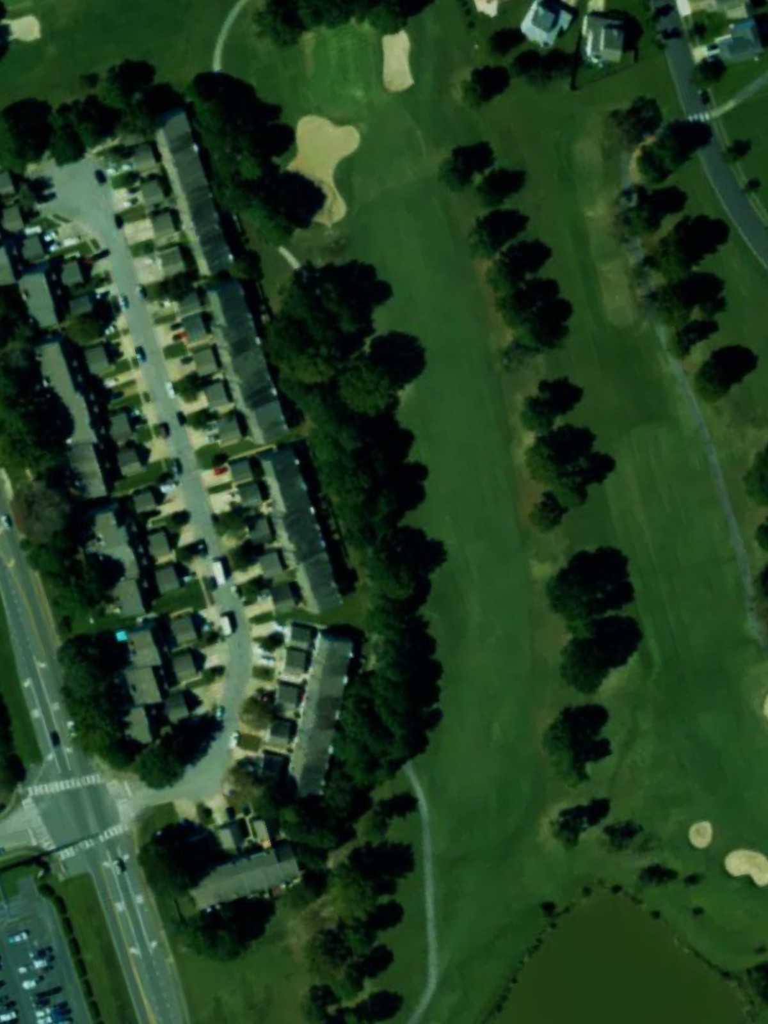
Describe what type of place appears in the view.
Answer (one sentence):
What you see here is a golf course.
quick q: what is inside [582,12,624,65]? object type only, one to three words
house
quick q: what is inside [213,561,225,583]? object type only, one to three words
vehicle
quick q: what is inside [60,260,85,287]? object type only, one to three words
building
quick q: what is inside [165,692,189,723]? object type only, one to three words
building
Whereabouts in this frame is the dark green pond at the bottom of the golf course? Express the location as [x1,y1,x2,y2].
[489,892,745,1024]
